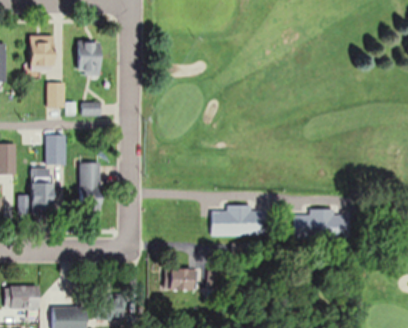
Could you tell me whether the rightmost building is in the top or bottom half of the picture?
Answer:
bottom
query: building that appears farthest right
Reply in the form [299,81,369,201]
[284,208,348,238]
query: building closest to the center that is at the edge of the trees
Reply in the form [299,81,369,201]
[210,204,264,237]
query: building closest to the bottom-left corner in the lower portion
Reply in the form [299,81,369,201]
[4,284,42,310]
